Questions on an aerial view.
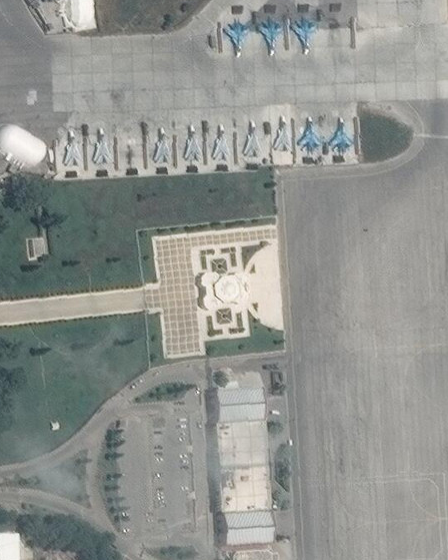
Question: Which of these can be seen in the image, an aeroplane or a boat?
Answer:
aeroplane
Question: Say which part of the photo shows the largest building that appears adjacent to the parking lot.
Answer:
bottom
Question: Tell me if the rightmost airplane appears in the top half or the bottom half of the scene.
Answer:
top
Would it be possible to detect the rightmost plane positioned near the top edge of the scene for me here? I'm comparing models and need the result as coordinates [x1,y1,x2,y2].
[290,17,315,55]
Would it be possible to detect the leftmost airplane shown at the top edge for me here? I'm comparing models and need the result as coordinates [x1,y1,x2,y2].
[224,19,250,58]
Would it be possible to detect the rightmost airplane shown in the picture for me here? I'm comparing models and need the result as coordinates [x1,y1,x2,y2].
[329,119,352,154]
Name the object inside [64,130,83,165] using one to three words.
airplane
